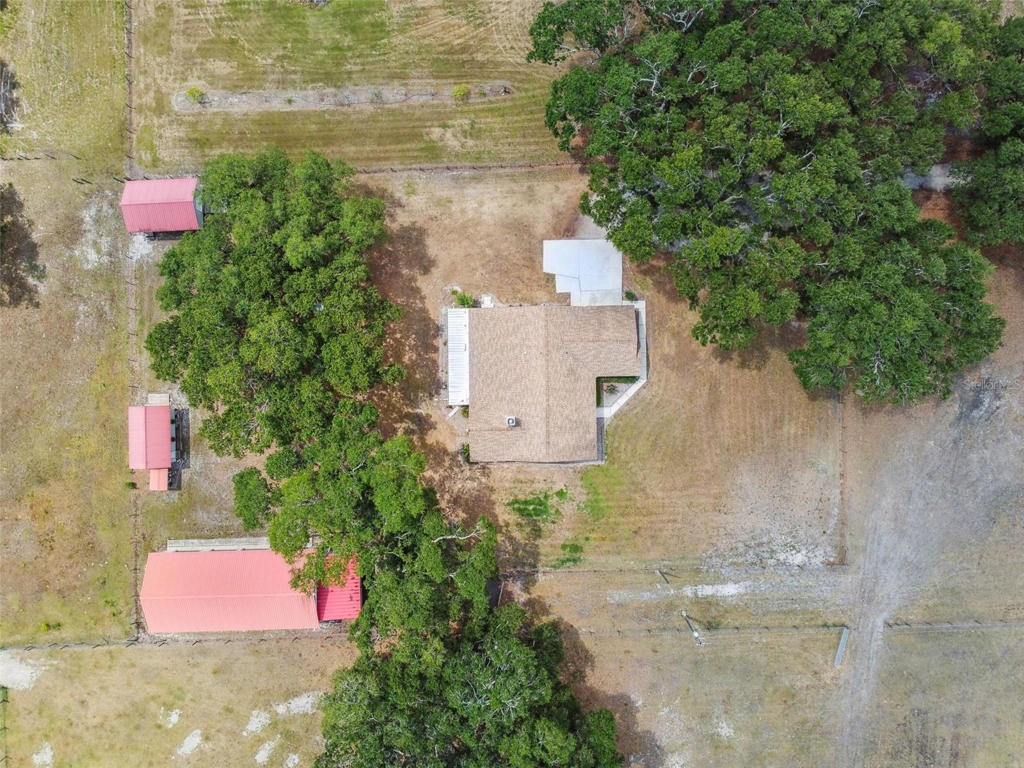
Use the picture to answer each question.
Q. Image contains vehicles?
No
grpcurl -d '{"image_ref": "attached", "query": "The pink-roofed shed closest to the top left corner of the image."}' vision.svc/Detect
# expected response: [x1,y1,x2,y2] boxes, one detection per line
[121,178,226,233]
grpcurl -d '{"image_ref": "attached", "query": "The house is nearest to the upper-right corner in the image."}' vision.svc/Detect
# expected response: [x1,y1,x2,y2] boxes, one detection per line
[448,305,642,462]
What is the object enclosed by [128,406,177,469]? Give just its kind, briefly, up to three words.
shed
